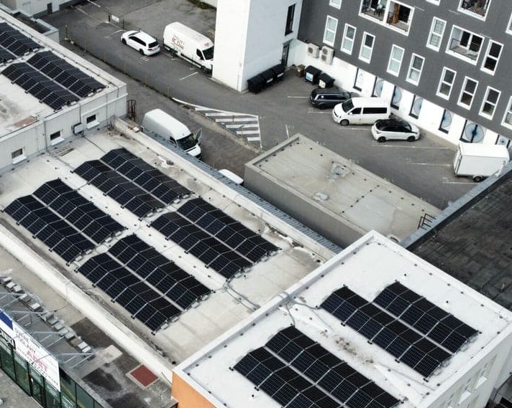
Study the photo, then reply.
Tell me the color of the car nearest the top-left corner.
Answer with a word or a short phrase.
white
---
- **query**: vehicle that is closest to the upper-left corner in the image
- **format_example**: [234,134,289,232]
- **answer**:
[120,30,163,56]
